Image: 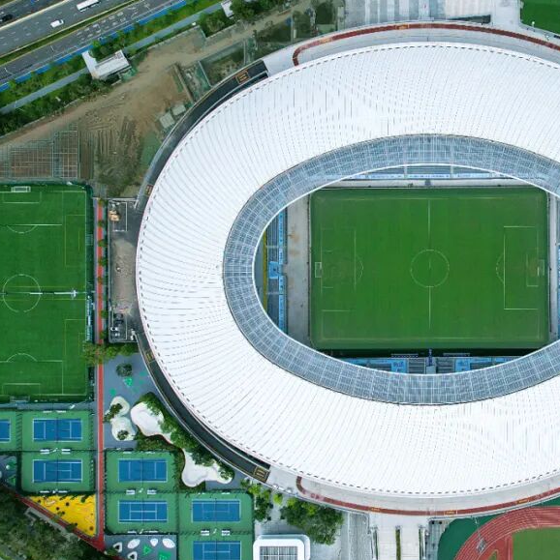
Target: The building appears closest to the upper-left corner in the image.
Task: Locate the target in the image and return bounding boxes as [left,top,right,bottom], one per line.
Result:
[82,49,133,78]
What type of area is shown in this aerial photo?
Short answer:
sports ground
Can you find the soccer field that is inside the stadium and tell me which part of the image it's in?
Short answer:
right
